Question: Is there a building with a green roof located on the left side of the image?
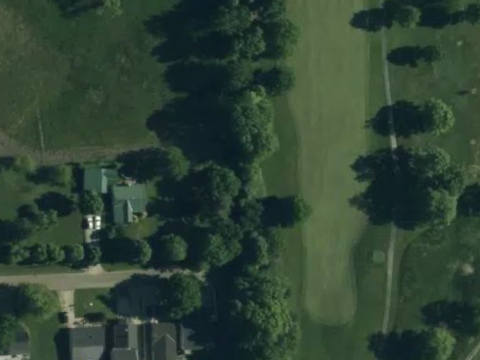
Yes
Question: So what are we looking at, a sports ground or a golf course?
golf course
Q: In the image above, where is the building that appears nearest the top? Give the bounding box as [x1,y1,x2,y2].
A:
[84,166,117,193]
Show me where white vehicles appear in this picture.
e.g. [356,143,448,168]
[95,216,100,228]
[87,216,93,229]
